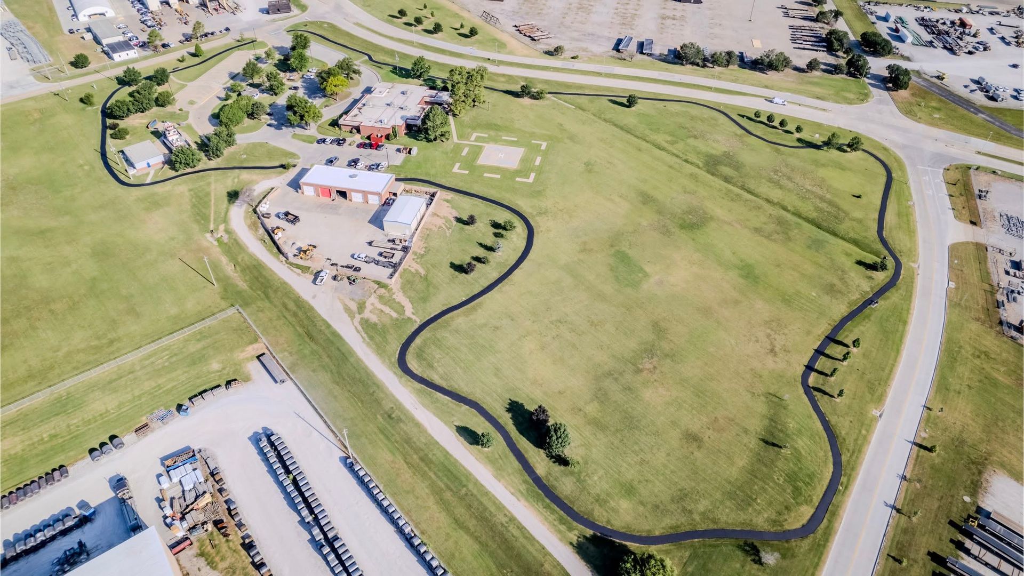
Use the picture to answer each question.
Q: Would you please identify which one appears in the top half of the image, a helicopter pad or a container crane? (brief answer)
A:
helicopter pad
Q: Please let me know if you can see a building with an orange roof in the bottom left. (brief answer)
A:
No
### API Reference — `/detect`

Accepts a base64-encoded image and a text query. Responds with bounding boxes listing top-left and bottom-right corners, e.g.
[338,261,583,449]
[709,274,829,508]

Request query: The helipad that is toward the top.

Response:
[453,133,546,182]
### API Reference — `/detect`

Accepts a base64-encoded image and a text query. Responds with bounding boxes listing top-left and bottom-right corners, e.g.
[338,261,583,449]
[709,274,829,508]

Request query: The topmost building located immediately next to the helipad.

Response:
[339,82,452,139]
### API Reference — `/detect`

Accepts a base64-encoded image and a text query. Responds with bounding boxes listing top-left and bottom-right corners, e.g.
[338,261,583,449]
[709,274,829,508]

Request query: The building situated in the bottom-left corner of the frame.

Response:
[58,525,181,576]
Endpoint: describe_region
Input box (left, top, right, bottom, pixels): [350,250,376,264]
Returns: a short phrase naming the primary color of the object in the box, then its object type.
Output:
white vehicle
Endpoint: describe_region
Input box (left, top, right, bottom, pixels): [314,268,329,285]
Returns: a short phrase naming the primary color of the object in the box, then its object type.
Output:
white vehicle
